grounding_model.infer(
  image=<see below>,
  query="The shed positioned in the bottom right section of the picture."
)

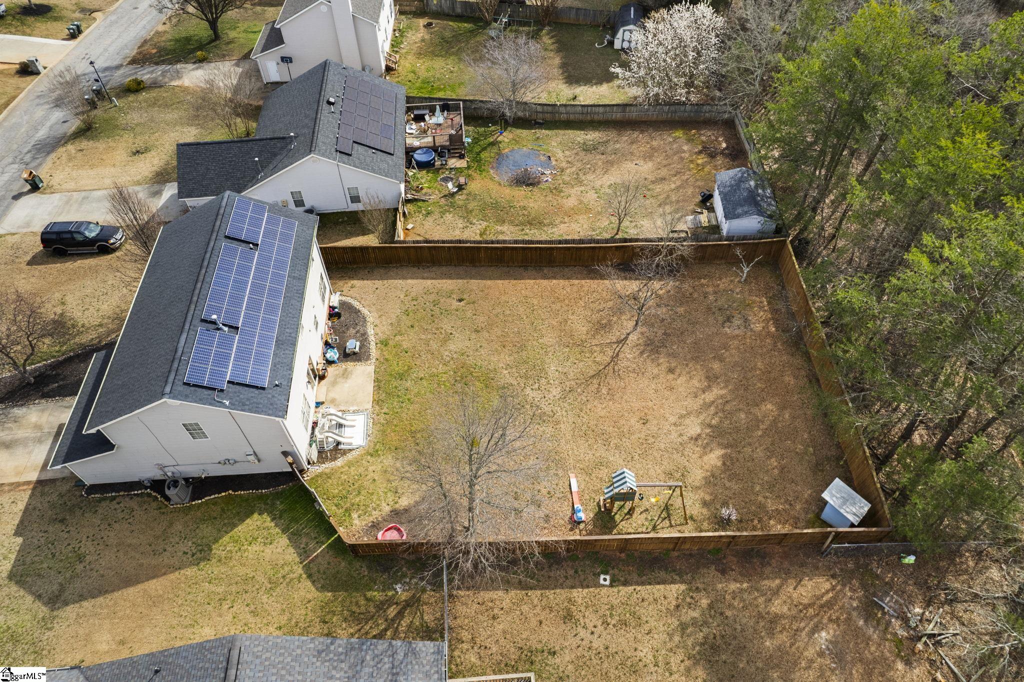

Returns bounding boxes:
[816,480,878,531]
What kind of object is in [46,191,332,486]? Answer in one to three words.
house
